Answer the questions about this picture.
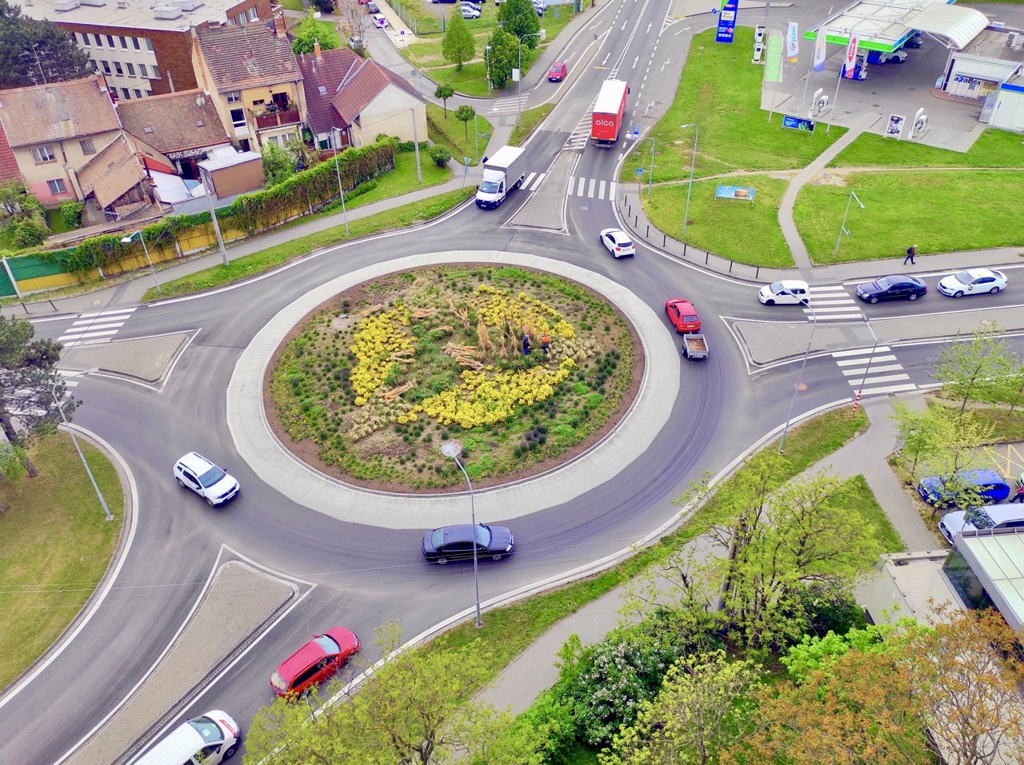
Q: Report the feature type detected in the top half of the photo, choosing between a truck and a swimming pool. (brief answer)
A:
truck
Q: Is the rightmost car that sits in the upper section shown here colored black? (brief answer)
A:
No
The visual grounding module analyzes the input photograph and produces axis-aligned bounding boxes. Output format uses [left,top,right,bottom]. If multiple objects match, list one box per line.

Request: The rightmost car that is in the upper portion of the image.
[937,266,1009,297]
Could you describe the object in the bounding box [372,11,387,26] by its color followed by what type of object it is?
white car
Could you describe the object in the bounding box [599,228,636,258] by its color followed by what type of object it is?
white car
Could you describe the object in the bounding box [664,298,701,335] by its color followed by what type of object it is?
red car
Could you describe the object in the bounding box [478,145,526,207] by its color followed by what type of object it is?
white truck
